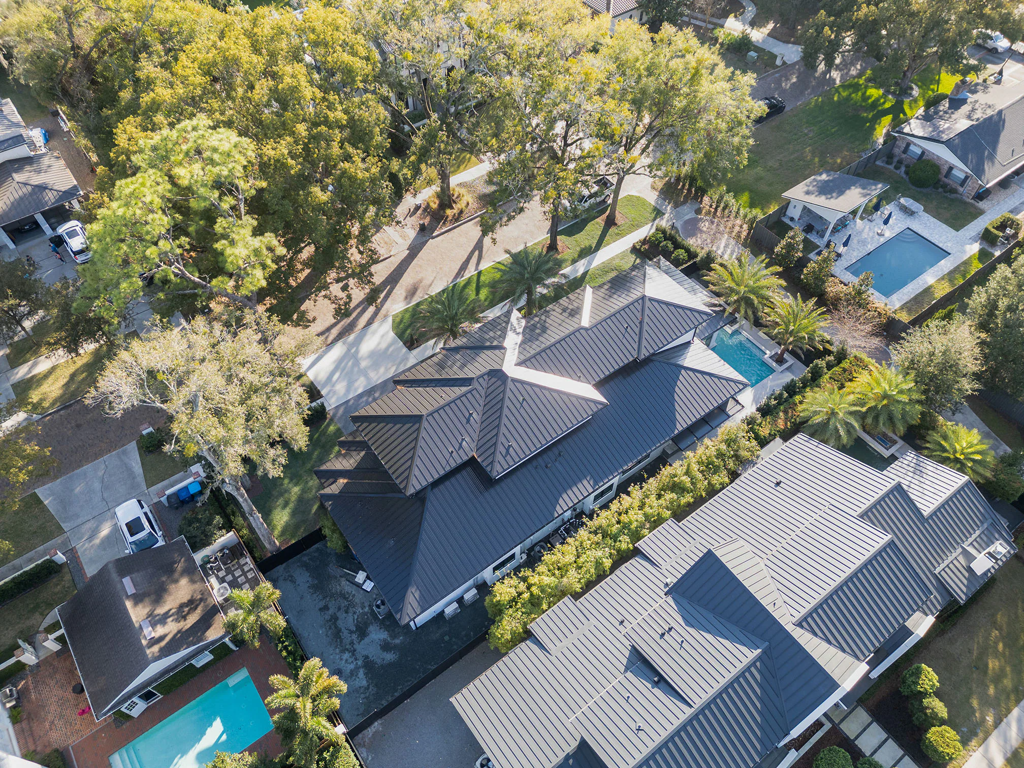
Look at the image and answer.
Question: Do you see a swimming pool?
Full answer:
Yes, a swimming pool appears in the view.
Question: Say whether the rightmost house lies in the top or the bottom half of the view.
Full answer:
The top half of the photo is where the rightmost house is.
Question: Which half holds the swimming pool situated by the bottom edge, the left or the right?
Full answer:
The swimming pool situated by the bottom edge sits on the left side.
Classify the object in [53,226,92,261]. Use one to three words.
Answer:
car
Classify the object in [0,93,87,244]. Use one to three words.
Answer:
house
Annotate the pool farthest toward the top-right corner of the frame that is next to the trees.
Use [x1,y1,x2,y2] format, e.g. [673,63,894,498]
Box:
[844,227,952,297]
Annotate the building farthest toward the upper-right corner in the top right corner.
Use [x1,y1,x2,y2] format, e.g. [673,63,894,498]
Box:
[889,57,1024,200]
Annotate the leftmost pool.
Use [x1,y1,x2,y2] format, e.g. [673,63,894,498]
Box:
[101,661,275,768]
